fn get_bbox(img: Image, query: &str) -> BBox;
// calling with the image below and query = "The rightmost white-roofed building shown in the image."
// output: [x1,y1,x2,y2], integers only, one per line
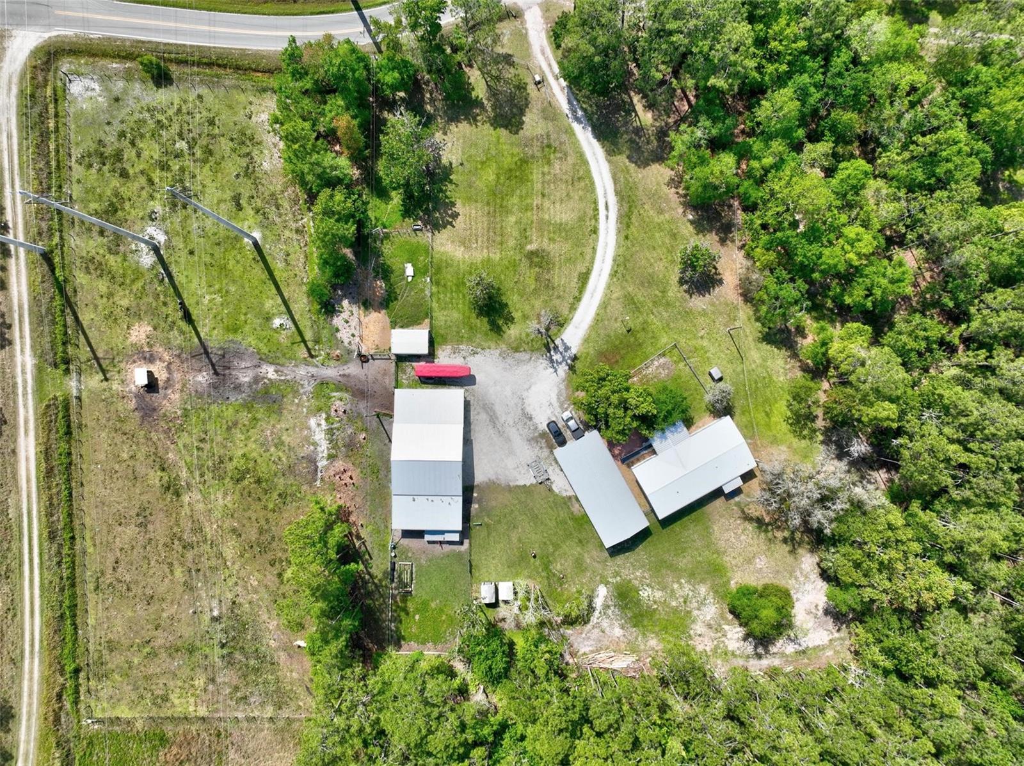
[629,414,753,517]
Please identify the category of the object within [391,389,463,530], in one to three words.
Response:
barn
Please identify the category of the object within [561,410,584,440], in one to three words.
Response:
truck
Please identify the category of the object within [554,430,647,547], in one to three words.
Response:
building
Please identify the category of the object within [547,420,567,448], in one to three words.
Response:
car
